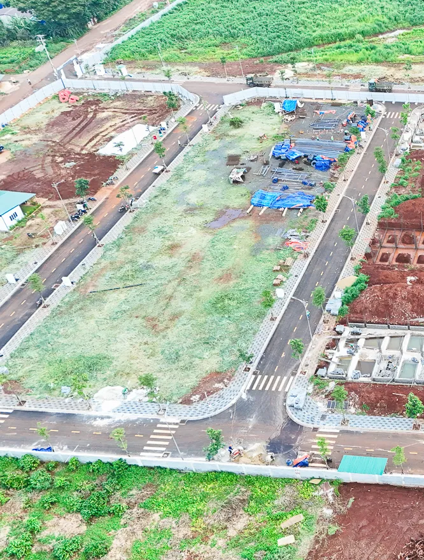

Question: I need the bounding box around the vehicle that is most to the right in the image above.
[366,79,393,91]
